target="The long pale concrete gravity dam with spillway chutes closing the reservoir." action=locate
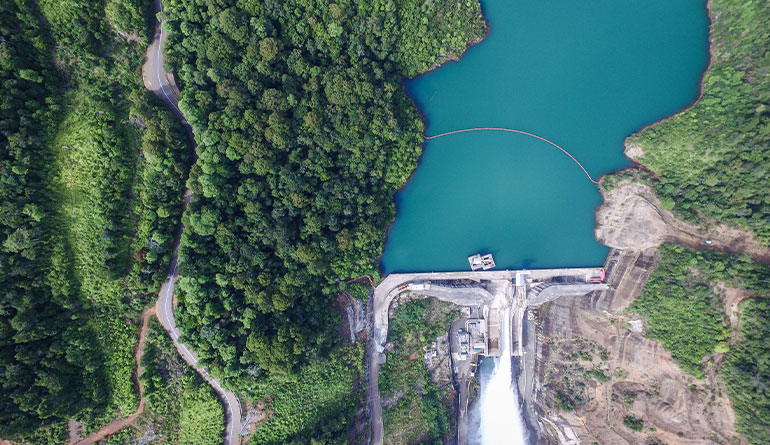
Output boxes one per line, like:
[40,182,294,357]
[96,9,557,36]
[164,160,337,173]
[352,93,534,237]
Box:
[372,266,611,359]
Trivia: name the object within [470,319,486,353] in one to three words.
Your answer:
building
